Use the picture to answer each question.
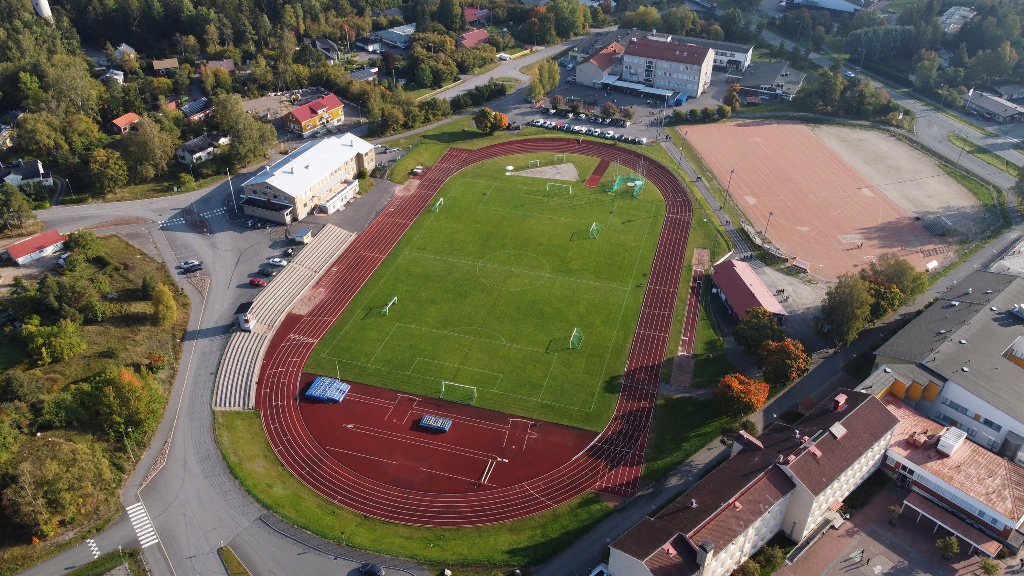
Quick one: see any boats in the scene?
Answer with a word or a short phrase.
No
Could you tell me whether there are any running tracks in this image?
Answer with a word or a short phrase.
Yes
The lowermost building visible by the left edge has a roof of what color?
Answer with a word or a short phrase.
red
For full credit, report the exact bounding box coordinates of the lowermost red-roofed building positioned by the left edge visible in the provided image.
[5,231,66,266]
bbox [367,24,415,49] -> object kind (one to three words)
house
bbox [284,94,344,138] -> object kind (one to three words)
house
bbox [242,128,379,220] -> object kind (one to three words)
building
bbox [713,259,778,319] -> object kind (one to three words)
building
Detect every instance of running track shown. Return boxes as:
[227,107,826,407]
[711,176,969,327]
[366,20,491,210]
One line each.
[261,144,693,528]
